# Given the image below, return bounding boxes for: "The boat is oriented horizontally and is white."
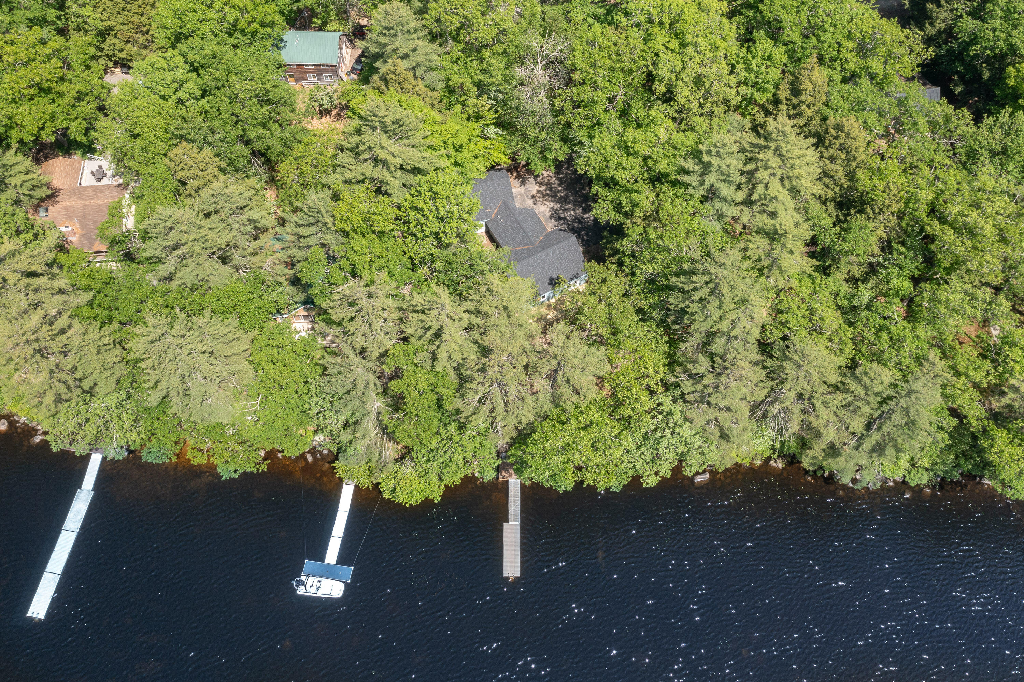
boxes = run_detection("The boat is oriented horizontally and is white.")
[291,576,346,598]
